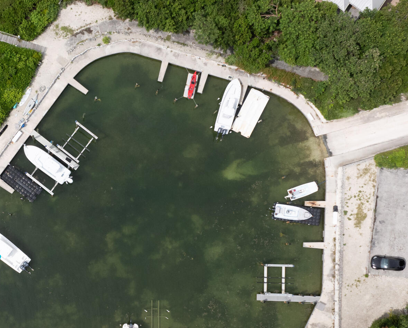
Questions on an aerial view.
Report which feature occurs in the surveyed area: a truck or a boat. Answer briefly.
boat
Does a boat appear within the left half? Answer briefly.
Yes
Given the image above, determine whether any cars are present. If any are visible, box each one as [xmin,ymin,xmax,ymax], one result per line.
[369,254,406,272]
